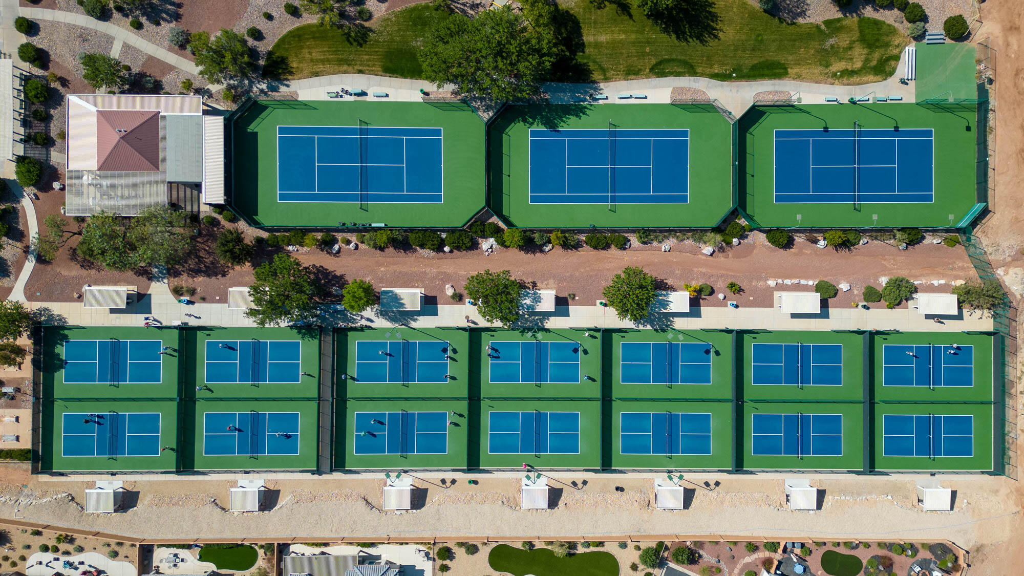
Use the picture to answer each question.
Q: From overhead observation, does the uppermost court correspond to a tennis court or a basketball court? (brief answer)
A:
basketball court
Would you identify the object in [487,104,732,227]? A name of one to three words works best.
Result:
tennis court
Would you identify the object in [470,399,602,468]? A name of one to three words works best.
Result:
sports court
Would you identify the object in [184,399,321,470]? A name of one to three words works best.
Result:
sports court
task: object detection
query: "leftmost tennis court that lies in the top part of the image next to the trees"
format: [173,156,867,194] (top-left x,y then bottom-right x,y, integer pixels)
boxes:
[234,100,487,227]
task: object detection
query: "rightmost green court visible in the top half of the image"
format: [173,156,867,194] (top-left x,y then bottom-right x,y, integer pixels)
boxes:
[916,42,976,104]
